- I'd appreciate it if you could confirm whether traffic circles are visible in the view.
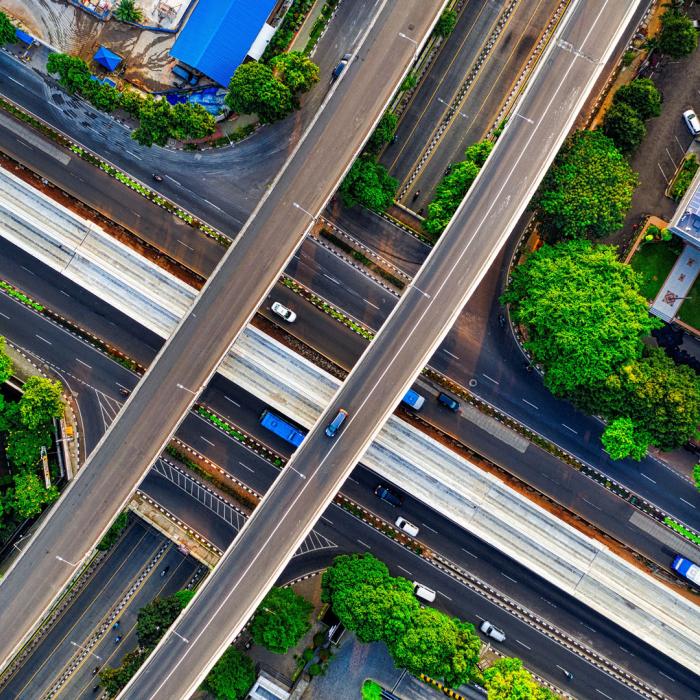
No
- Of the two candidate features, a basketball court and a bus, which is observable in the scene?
bus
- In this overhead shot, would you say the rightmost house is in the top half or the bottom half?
top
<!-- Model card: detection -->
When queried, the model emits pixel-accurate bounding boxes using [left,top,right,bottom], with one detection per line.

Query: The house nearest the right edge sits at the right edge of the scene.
[662,174,700,255]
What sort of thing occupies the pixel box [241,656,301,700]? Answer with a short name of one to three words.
house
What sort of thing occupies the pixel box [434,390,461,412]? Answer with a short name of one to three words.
car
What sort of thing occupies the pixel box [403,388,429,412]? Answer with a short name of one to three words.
bus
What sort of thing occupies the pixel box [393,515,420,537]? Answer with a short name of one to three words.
car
